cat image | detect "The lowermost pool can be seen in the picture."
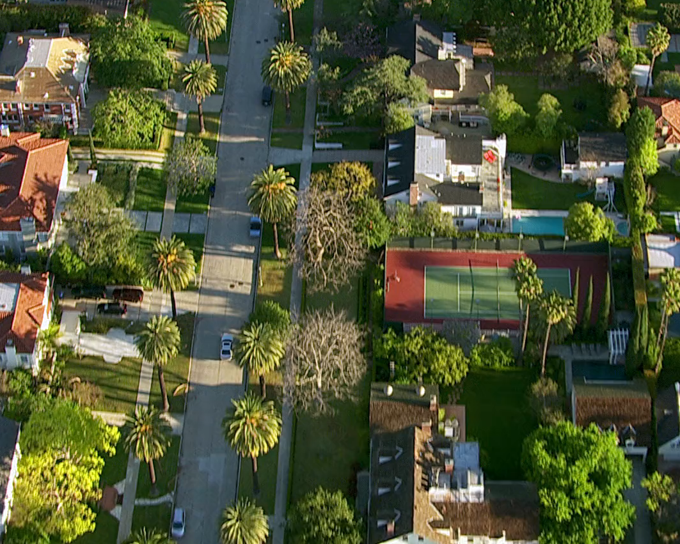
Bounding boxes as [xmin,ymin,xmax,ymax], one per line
[570,358,628,379]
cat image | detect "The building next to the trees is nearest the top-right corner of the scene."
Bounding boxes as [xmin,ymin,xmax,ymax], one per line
[631,64,650,92]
